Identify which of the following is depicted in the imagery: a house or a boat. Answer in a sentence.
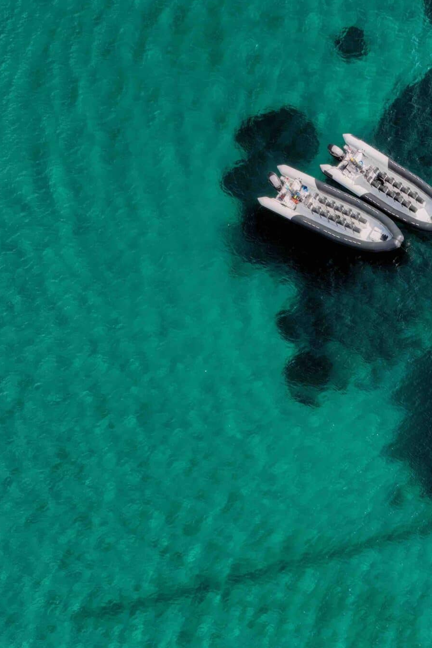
Visible in the photo is a boat.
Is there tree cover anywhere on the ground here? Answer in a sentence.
No, no tree cover is visible.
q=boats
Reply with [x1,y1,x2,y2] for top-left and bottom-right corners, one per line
[258,165,403,255]
[321,135,432,231]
